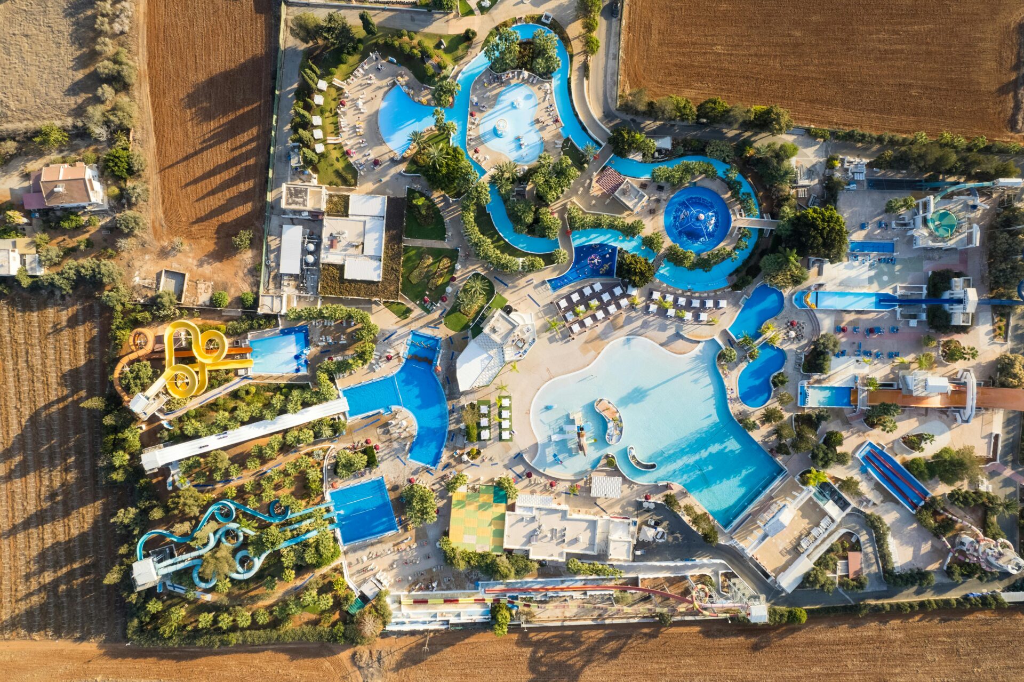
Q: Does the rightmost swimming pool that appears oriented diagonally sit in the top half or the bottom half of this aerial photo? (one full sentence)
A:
It is in the bottom half that the rightmost swimming pool that appears oriented diagonally appears.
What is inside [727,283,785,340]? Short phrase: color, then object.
blue swimming pool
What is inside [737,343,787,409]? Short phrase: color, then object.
blue swimming pool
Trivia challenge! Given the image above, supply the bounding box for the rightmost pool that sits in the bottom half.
[858,441,932,512]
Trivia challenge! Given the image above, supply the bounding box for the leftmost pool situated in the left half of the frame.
[250,326,309,375]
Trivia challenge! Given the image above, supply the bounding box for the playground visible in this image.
[552,412,594,457]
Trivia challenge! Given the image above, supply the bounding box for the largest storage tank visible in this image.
[159,269,192,303]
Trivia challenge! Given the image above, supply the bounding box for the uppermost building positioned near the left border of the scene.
[18,162,110,210]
